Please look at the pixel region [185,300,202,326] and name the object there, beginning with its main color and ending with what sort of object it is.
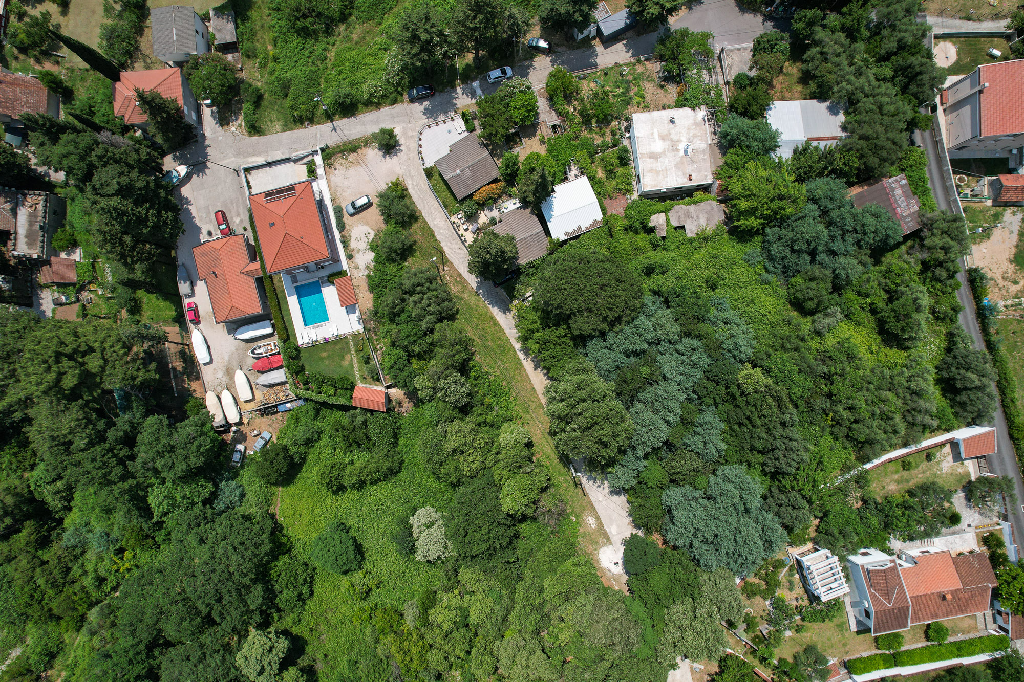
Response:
red car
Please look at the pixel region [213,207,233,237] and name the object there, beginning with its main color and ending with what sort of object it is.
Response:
red car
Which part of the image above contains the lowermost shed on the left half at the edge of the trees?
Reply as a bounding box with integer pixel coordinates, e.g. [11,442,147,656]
[352,386,387,412]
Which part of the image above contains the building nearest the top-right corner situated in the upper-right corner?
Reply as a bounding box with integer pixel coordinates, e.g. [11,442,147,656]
[943,59,1024,150]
